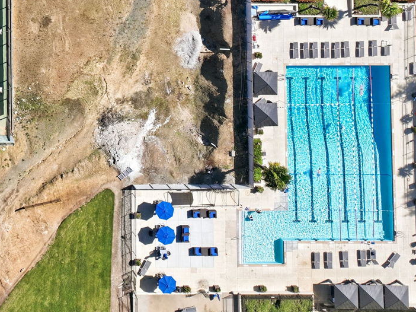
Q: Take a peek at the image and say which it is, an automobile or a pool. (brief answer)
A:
pool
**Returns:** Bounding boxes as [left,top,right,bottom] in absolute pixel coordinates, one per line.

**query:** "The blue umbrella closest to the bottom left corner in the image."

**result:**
[156,273,177,294]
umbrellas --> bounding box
[155,224,175,244]
[154,199,174,219]
[156,273,177,294]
